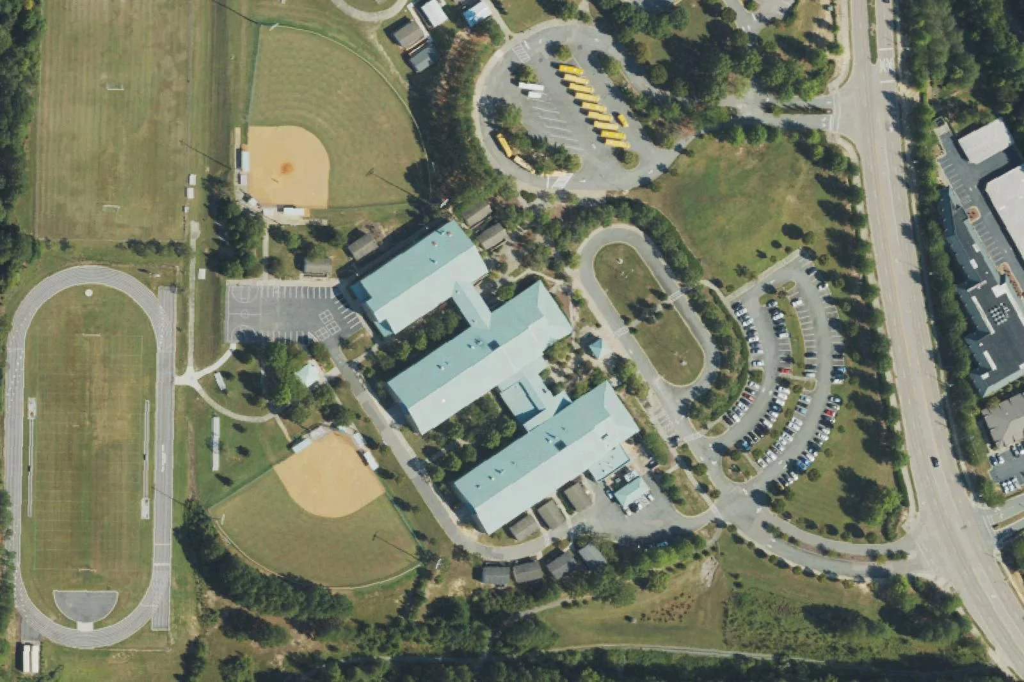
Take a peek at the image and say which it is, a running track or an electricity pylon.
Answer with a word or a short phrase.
running track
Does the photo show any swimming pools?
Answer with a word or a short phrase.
No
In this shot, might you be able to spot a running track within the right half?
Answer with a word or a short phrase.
No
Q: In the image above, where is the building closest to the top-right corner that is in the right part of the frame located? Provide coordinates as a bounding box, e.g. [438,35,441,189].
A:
[951,118,1011,164]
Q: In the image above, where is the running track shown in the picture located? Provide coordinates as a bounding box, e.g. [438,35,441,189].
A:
[4,266,158,647]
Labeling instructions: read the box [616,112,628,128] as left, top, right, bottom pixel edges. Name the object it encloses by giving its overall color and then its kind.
yellow vehicle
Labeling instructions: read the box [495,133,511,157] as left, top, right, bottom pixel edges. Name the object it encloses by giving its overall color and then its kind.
yellow vehicle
